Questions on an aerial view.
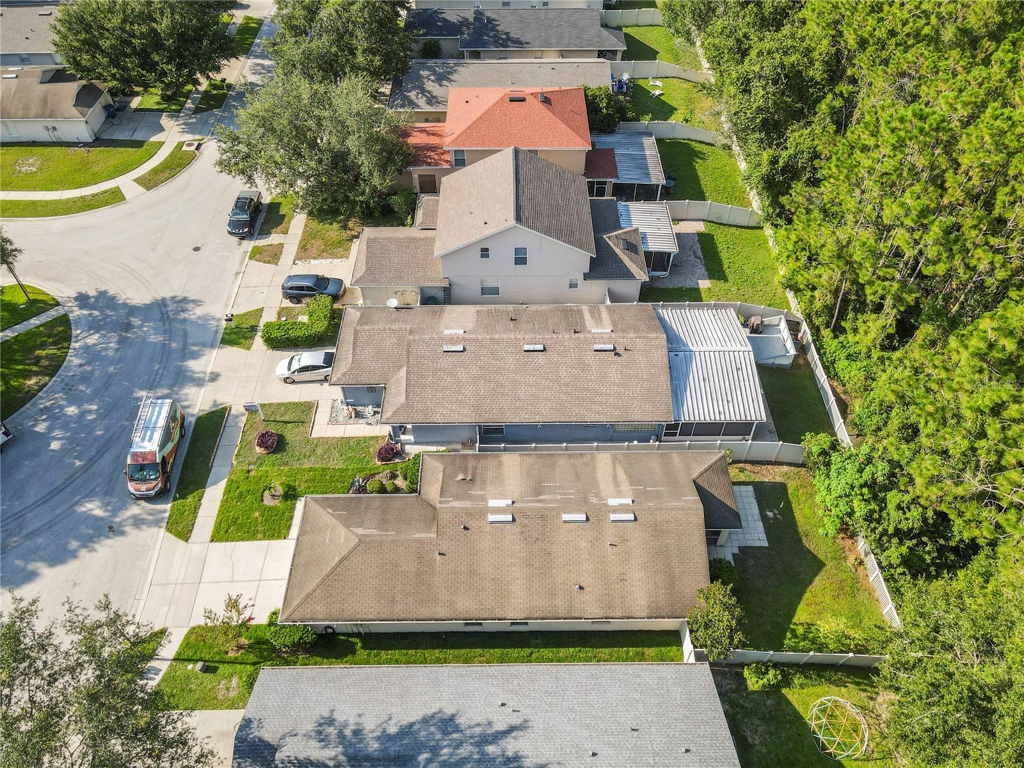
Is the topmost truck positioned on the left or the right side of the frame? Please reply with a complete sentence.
You can find the topmost truck on the left side of the picture.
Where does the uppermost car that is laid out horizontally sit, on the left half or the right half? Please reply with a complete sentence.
You can find the uppermost car that is laid out horizontally on the left side of the picture.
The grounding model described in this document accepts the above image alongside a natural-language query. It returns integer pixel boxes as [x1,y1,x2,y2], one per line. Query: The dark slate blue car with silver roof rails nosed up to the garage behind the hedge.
[280,270,350,303]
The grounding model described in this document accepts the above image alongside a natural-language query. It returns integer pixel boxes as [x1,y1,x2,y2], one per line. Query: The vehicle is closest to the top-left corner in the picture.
[224,190,261,240]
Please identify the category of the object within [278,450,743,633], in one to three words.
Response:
house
